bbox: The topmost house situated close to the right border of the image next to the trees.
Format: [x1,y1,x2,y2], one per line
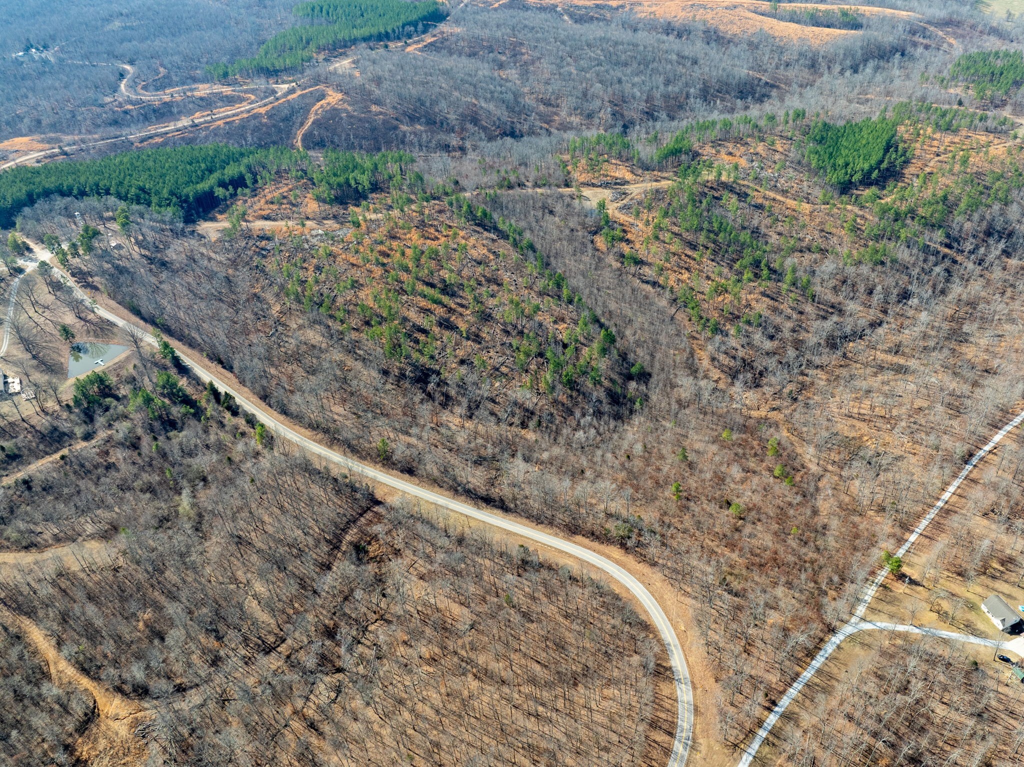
[980,598,1024,631]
